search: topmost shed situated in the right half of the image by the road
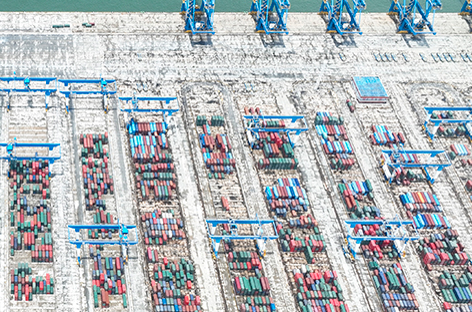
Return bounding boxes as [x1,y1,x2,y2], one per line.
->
[352,76,389,102]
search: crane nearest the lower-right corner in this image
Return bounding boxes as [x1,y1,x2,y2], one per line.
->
[343,214,417,259]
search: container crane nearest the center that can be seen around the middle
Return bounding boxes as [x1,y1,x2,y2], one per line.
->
[244,111,307,150]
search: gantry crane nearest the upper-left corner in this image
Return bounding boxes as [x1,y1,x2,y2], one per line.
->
[0,71,56,110]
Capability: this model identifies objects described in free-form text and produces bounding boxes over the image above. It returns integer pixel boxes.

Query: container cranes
[379,144,450,185]
[244,111,307,150]
[343,214,417,259]
[207,214,278,259]
[247,0,292,33]
[177,0,216,33]
[0,71,56,110]
[387,0,445,33]
[118,92,178,130]
[68,218,137,264]
[0,137,60,179]
[317,0,368,33]
[418,102,472,140]
[58,74,115,112]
